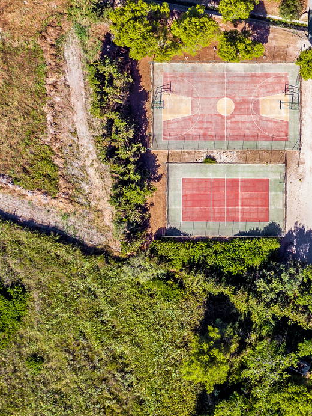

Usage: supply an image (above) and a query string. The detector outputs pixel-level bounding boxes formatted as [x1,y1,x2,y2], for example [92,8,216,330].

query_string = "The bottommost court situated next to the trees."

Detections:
[168,163,285,237]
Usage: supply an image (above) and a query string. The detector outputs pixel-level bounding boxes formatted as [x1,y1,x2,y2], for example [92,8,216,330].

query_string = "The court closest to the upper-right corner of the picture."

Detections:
[153,63,298,148]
